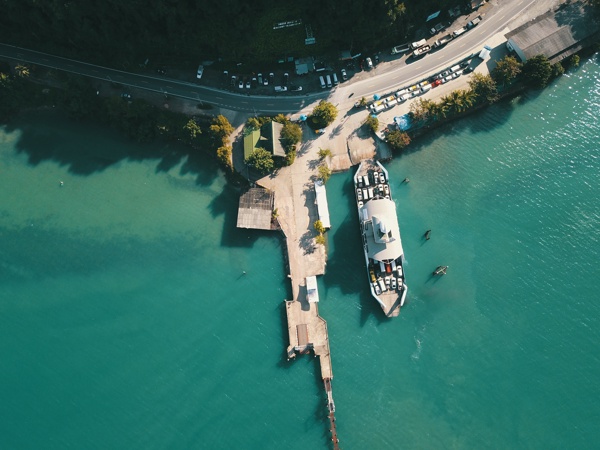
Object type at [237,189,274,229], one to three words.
building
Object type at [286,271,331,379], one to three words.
pier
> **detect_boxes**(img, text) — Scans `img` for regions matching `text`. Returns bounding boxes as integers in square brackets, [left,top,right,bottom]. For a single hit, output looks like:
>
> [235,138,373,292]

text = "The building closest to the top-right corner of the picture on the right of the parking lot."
[504,0,600,64]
